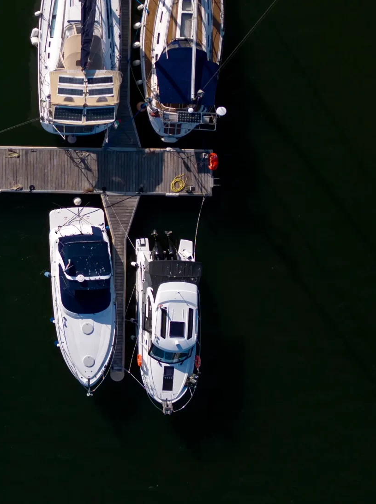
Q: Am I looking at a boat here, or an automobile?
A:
boat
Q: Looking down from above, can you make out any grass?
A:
No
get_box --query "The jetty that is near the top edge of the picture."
[100,0,142,149]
